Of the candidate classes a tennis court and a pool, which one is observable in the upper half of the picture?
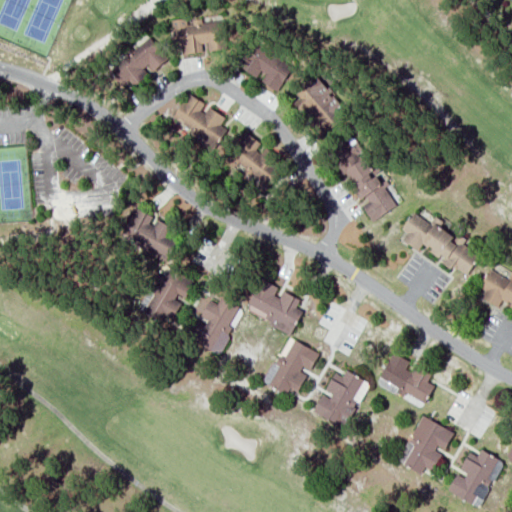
tennis court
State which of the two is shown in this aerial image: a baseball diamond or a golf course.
golf course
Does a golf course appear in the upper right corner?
Yes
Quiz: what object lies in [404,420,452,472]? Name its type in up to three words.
house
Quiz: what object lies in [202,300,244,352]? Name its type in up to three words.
house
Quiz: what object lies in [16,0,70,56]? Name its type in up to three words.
tennis court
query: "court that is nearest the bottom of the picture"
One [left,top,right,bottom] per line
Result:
[0,146,34,222]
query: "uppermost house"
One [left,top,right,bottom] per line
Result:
[173,16,226,59]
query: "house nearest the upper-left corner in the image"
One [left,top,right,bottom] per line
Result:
[112,34,165,88]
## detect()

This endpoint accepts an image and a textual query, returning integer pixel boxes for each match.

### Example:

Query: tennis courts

[0,146,34,222]
[0,0,34,43]
[16,0,70,56]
